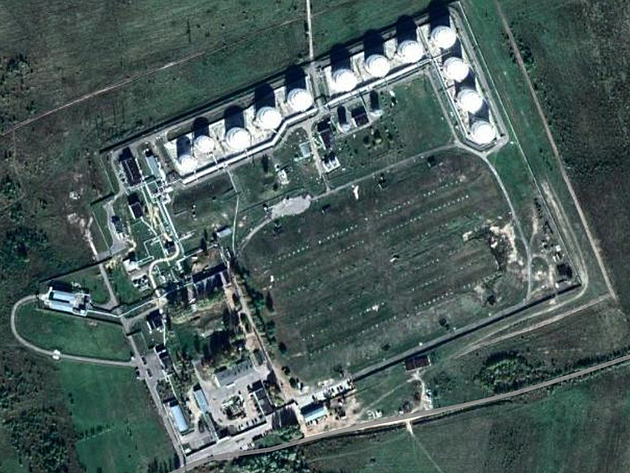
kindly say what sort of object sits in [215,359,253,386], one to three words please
building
